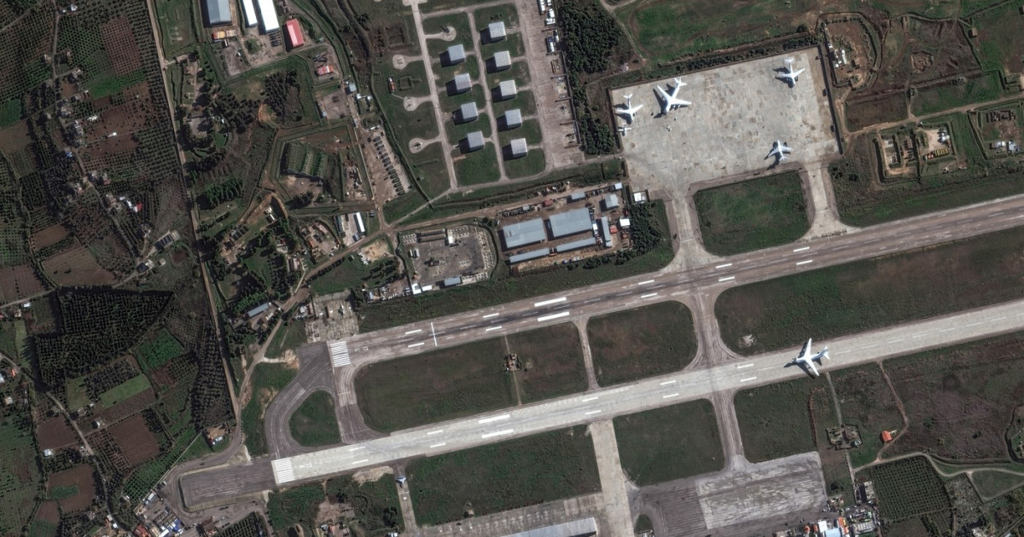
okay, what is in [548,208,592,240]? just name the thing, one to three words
building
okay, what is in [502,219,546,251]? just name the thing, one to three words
building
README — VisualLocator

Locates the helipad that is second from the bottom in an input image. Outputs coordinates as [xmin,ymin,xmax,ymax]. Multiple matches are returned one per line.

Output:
[404,94,433,109]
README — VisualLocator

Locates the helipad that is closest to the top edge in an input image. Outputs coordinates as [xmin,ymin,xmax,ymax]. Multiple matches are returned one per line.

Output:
[425,26,455,40]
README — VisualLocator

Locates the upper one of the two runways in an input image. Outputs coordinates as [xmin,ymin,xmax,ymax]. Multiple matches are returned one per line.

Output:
[327,196,1024,371]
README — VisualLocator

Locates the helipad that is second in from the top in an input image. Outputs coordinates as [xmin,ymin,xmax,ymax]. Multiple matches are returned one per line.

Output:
[393,55,425,68]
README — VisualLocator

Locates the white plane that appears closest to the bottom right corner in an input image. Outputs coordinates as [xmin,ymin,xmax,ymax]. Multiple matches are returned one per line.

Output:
[794,337,830,374]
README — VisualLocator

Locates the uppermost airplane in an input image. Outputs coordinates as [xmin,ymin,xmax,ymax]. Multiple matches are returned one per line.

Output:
[779,57,804,86]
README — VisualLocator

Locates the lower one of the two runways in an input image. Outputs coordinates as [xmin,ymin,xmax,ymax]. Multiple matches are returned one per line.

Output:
[271,299,1024,485]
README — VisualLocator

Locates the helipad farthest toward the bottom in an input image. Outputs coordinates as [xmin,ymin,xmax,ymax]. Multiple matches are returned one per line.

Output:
[409,135,442,152]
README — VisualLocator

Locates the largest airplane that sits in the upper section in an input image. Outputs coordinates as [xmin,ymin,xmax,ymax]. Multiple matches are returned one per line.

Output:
[657,78,692,115]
